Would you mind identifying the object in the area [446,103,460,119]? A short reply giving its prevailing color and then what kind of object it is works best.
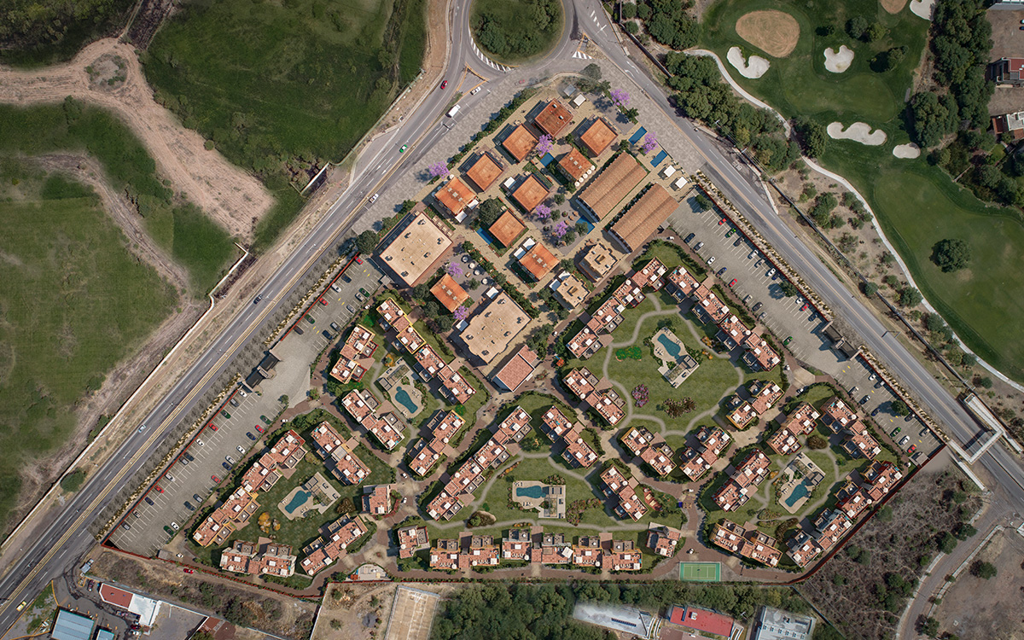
white vehicle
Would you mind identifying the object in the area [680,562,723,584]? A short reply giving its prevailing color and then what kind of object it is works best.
green tennis court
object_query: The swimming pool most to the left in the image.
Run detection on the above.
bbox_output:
[274,470,333,525]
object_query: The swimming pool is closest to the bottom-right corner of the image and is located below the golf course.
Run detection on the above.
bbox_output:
[776,452,824,516]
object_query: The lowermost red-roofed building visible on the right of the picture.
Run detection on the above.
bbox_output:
[668,602,735,638]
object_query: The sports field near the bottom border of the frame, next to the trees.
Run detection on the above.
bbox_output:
[384,586,437,640]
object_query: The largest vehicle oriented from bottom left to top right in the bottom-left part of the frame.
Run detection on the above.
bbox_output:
[79,559,94,575]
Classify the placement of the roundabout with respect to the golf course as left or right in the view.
on its left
